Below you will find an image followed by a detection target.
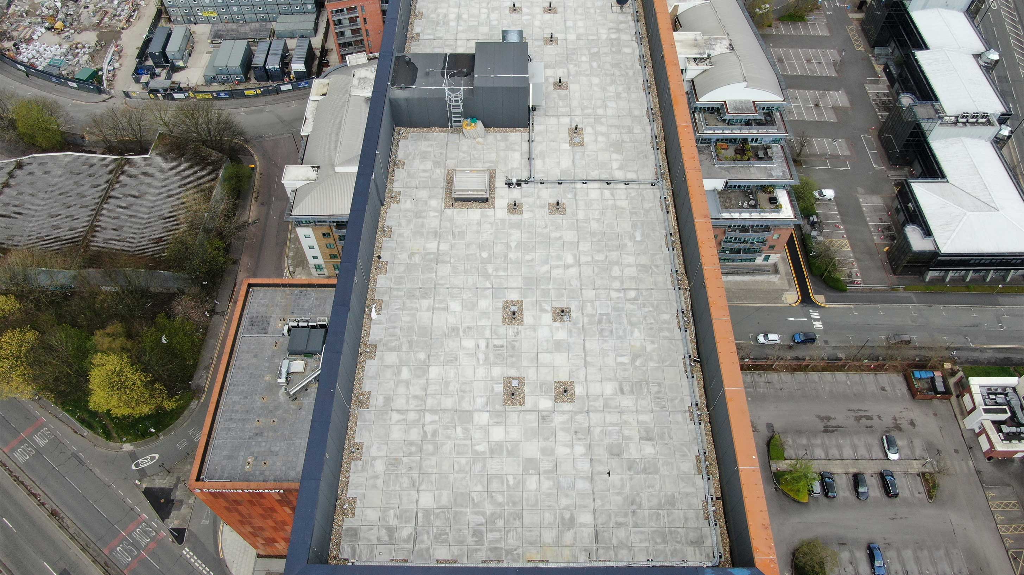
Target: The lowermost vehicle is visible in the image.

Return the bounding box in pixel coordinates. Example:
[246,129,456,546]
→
[866,543,886,575]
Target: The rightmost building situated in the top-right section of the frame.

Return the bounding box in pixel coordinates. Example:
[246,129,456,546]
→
[862,0,1024,290]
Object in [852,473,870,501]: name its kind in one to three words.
car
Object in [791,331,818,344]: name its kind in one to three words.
vehicle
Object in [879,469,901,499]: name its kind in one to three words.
car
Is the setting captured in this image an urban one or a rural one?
urban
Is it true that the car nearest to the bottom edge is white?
No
